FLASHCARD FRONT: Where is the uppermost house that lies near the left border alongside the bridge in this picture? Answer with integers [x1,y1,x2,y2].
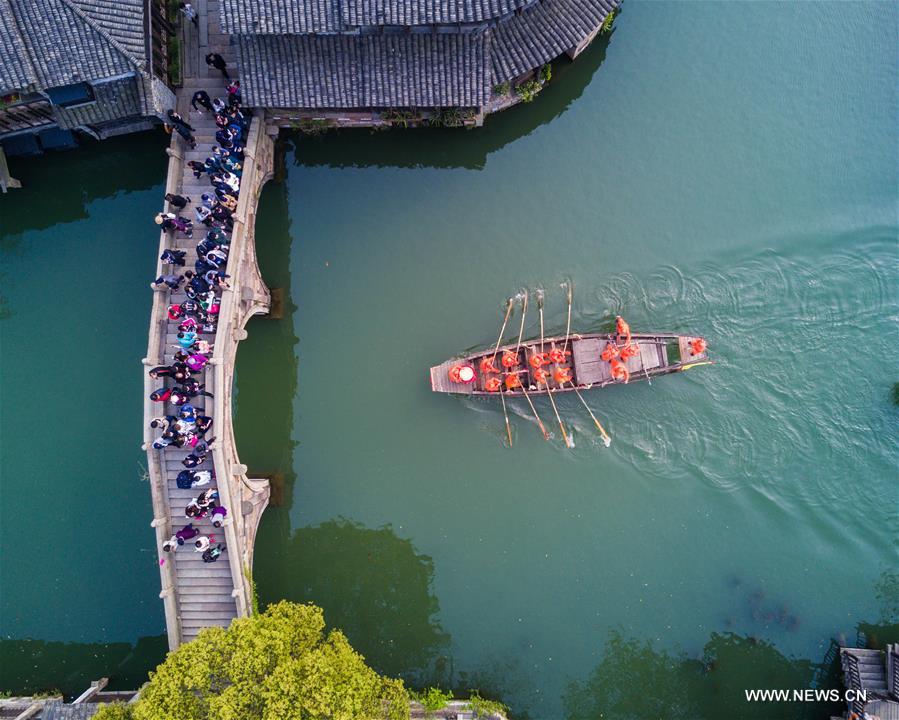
[0,0,176,164]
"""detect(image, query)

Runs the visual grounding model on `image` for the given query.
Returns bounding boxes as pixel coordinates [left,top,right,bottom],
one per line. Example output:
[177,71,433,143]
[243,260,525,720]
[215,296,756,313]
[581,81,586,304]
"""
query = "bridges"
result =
[138,104,285,679]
